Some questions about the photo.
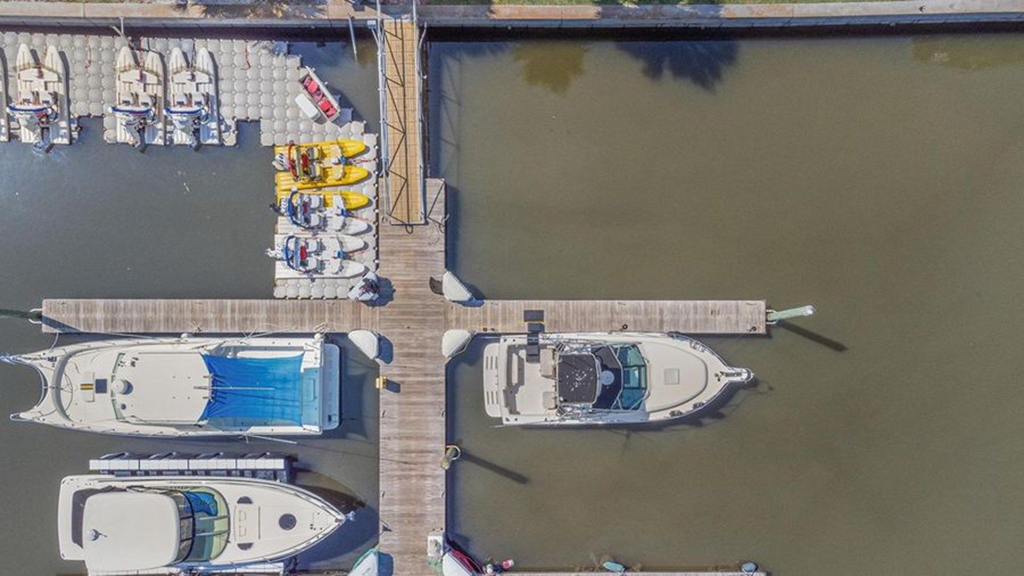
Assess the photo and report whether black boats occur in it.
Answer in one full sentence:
Yes, there's a black boat down there.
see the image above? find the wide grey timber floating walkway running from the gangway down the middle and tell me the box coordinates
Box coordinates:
[347,180,478,576]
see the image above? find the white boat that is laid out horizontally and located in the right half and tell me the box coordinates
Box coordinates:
[484,332,755,428]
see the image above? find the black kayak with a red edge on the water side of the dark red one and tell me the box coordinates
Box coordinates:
[453,545,489,576]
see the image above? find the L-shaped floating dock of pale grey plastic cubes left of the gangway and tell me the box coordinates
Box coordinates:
[0,33,380,300]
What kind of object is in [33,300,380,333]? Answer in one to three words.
pier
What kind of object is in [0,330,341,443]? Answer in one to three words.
boat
